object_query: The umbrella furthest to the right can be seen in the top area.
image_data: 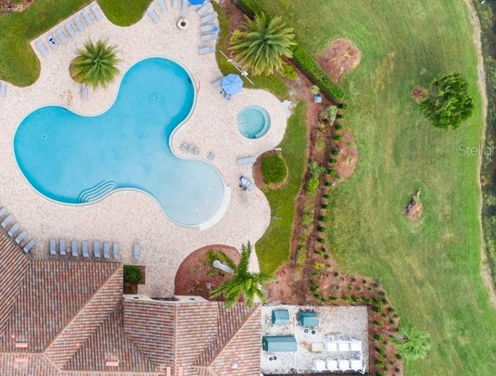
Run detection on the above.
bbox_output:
[219,75,241,96]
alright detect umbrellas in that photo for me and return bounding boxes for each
[219,75,241,96]
[186,0,206,6]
